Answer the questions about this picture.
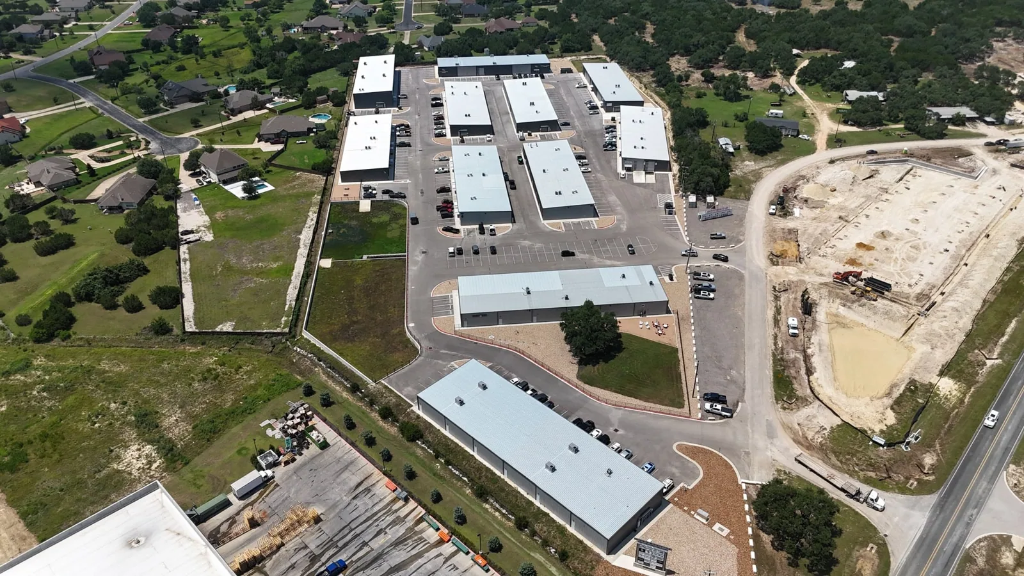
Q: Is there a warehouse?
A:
Yes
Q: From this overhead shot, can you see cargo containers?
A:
Yes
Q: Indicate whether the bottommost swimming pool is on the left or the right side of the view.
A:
left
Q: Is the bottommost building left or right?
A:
left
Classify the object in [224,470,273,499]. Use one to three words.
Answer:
truck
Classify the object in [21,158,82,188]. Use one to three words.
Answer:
house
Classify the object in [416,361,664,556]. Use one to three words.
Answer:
warehouse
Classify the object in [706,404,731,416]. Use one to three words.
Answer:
vehicle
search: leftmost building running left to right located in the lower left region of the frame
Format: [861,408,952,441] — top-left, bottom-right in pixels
[0,480,223,576]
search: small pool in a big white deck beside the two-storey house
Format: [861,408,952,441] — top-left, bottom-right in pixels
[232,177,275,198]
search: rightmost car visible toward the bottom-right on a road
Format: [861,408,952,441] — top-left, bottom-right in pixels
[984,411,999,427]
